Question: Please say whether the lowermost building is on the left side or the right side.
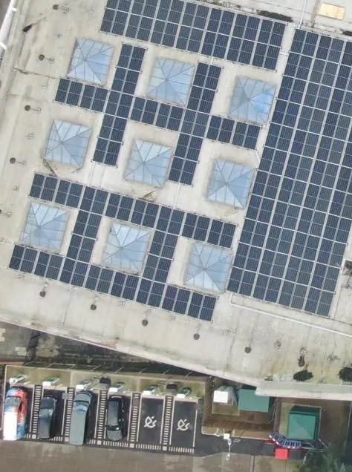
right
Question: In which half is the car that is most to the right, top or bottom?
bottom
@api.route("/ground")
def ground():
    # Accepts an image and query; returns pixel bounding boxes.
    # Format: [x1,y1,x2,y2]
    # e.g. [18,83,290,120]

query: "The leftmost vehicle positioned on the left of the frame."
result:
[1,386,31,443]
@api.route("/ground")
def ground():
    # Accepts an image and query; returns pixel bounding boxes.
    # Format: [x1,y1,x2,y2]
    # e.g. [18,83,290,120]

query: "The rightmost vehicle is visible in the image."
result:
[103,394,129,441]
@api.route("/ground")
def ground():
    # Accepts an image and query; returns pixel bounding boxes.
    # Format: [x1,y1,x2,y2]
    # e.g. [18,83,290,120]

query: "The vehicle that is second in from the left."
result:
[35,393,60,442]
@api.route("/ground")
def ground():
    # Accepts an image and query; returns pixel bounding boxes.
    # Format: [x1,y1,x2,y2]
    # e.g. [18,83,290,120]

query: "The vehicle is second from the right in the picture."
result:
[64,387,95,444]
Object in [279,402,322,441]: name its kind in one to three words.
building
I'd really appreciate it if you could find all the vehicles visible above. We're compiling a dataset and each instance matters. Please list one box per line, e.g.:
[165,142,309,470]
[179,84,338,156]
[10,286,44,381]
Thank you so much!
[35,393,60,442]
[1,386,31,443]
[103,394,129,441]
[64,387,95,444]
